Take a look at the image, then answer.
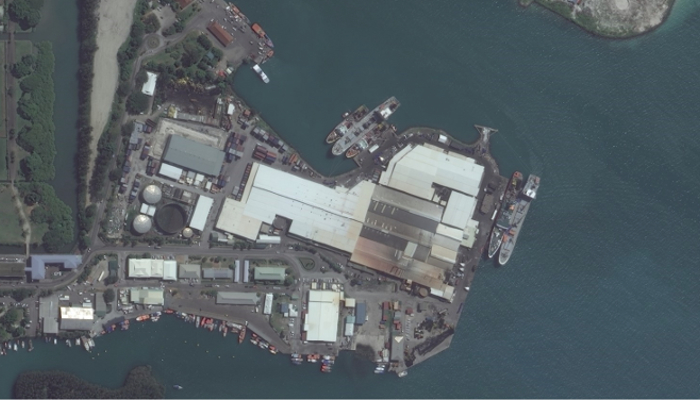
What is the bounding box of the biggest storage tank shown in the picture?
[154,202,186,234]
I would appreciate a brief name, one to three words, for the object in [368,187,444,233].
shed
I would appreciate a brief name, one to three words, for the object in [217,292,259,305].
building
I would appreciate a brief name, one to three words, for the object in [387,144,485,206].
shed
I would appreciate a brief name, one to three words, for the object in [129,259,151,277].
building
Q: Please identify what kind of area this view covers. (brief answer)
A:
port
